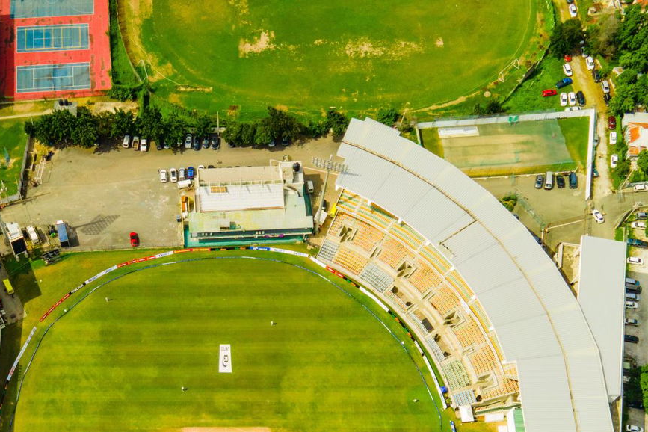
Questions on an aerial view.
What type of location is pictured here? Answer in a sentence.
This looks like a sports ground.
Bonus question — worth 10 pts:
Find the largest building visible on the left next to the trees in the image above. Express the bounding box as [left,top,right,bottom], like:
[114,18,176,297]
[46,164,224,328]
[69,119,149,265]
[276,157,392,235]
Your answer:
[184,160,313,255]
